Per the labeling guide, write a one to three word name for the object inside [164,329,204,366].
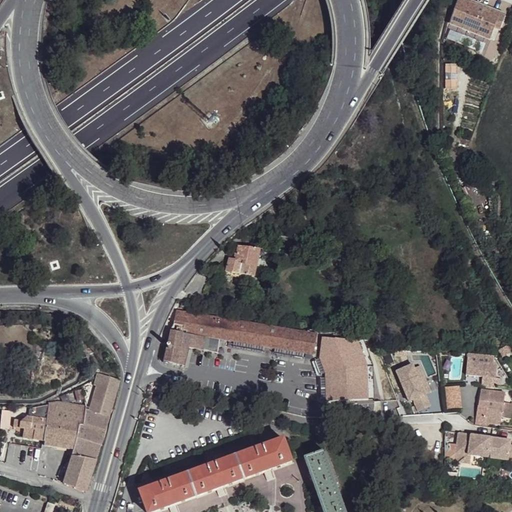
building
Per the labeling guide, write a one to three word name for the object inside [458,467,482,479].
swimming pool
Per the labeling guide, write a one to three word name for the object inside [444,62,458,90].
house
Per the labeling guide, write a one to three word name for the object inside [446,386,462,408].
building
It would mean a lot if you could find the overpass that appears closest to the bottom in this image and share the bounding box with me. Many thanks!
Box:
[13,92,101,177]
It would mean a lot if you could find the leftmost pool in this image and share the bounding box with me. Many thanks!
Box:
[412,354,436,378]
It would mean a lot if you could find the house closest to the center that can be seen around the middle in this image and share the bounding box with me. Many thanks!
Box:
[226,245,262,278]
